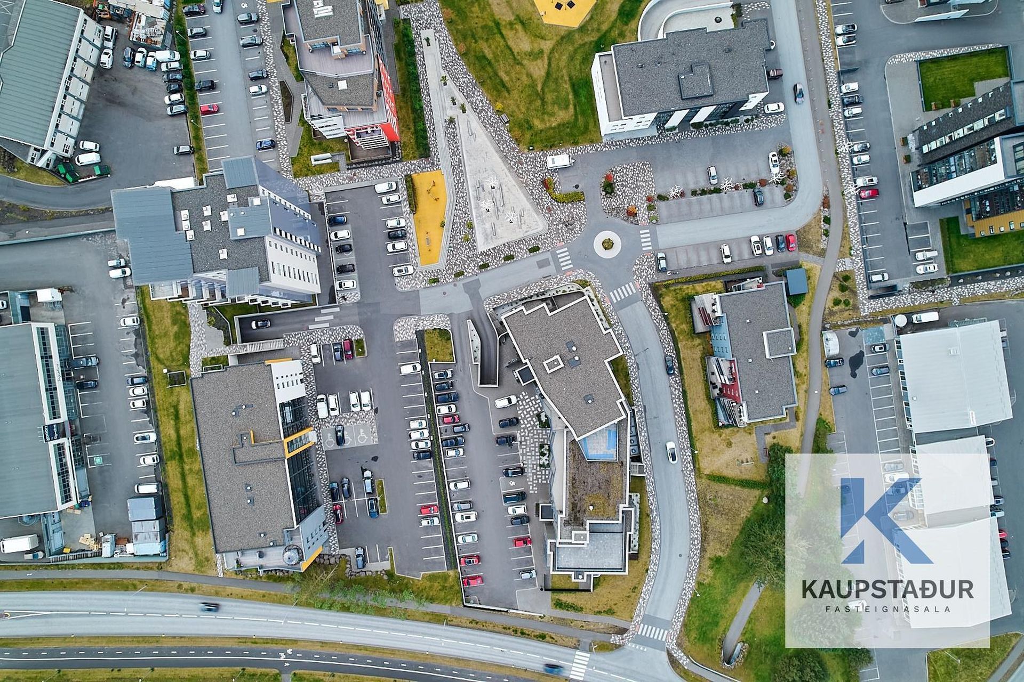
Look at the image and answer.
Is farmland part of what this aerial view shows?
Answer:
No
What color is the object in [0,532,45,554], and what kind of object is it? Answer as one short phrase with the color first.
white truck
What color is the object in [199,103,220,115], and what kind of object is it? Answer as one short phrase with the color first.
red vehicle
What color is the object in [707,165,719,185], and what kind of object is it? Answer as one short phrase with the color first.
white vehicle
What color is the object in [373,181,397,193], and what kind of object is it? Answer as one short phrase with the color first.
white vehicle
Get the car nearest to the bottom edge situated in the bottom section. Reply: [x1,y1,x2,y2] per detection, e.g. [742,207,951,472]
[544,663,563,675]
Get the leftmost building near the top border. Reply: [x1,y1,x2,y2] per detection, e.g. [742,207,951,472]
[0,0,105,168]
